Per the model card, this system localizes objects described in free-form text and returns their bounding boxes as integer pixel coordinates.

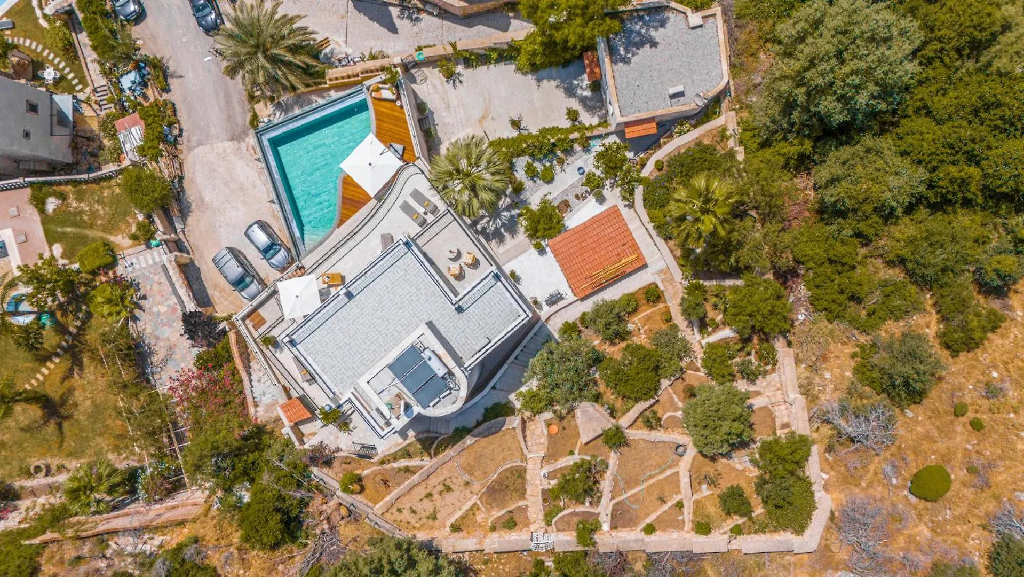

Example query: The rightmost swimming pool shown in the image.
[255,84,379,262]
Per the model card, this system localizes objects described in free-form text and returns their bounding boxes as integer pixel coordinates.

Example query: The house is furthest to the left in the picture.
[0,74,76,183]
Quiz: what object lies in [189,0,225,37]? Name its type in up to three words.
car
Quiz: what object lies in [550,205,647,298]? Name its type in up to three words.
building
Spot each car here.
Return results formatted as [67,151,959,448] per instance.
[213,241,264,304]
[245,217,292,273]
[108,0,145,24]
[189,0,225,37]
